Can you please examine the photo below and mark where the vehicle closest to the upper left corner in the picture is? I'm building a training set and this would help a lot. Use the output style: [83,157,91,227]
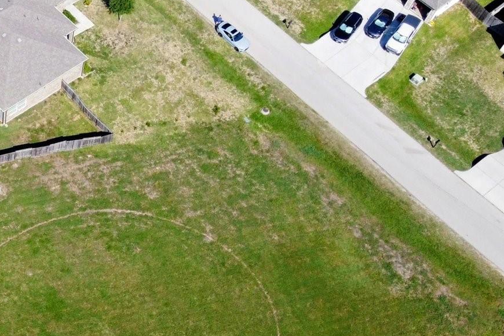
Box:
[214,17,251,52]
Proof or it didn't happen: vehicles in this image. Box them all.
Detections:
[214,17,251,52]
[331,8,366,44]
[364,6,396,39]
[384,13,424,54]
